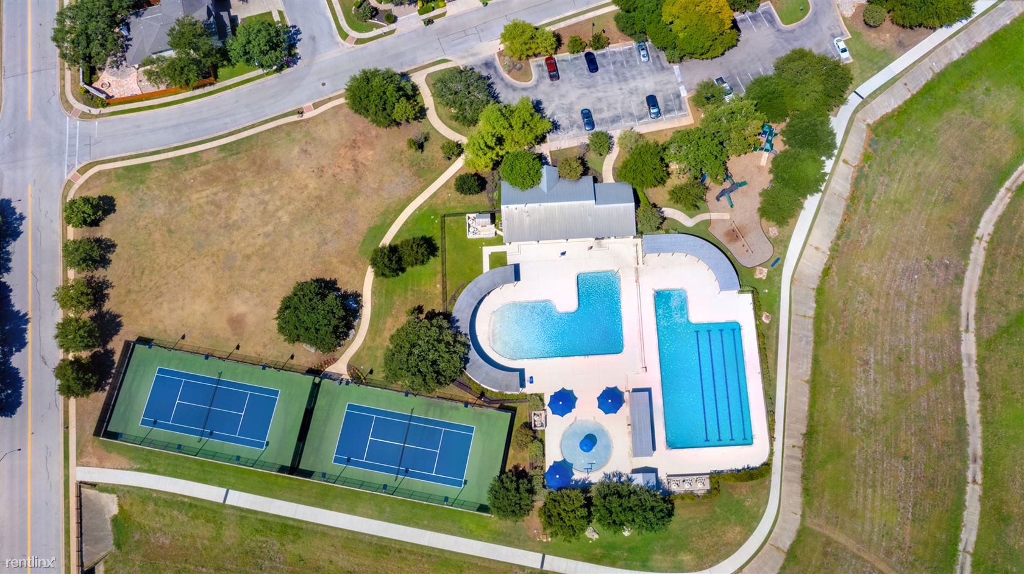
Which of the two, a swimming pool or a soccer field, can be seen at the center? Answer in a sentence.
You can see a swimming pool at the center.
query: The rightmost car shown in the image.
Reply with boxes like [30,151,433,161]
[834,37,850,59]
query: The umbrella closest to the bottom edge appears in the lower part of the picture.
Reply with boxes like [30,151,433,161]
[542,461,572,490]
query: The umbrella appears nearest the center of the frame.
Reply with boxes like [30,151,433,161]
[546,388,576,418]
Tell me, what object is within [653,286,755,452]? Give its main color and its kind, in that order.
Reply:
blue swimming pool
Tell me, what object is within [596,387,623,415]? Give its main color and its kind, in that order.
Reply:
blue umbrella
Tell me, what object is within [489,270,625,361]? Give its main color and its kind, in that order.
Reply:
blue swimming pool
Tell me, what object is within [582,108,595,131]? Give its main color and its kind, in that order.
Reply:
blue vehicle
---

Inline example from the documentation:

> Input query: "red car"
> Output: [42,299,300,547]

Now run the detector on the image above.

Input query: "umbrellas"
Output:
[542,461,572,490]
[546,388,576,418]
[596,387,623,415]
